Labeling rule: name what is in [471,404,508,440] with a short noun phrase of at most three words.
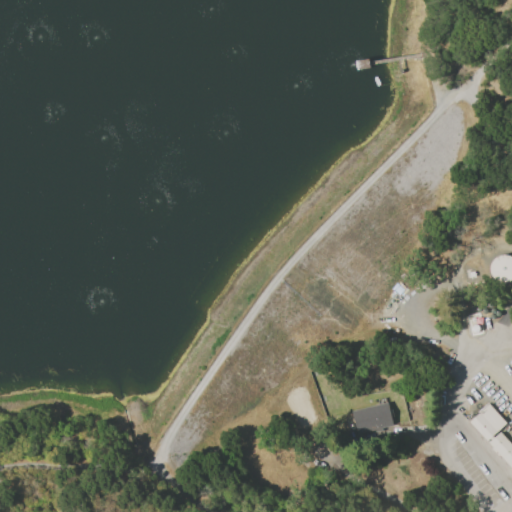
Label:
building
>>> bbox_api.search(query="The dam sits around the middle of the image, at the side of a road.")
[144,99,466,466]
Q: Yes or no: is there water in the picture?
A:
Yes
